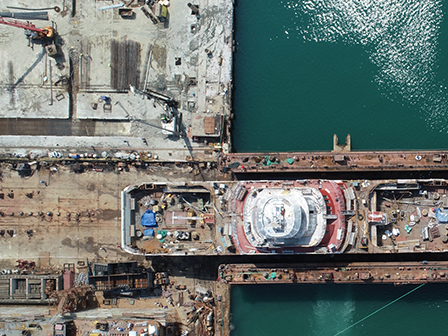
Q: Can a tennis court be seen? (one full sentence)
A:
No, there is no tennis court in the image.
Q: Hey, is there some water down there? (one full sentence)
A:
Yes, the picture does contain water.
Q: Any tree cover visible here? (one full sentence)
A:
No, the scene doesn't show any tree cover.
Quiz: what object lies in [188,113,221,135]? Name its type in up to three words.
shed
